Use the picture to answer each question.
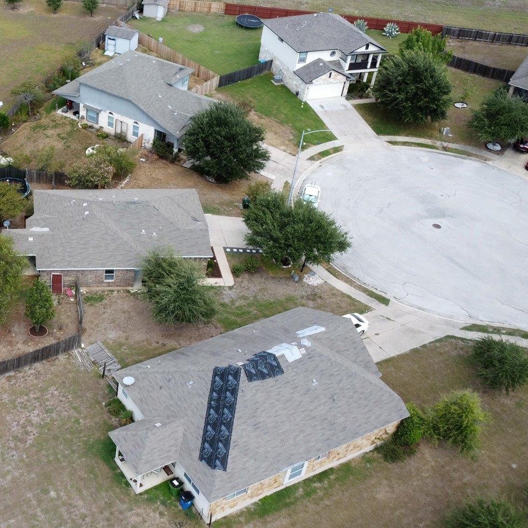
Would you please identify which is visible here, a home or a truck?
home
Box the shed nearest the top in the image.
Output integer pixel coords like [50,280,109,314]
[143,0,169,21]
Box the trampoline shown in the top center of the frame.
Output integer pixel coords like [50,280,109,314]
[236,16,262,32]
